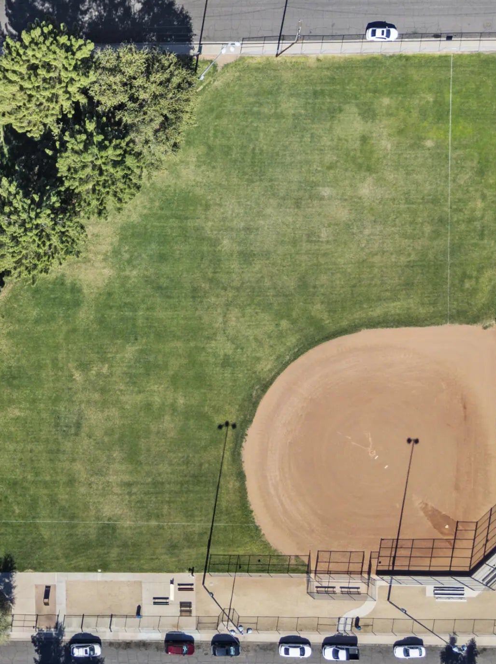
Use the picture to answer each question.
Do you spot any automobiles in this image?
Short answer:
Yes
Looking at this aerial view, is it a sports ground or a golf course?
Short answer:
sports ground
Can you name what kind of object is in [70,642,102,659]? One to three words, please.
car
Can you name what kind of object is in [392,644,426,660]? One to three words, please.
car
